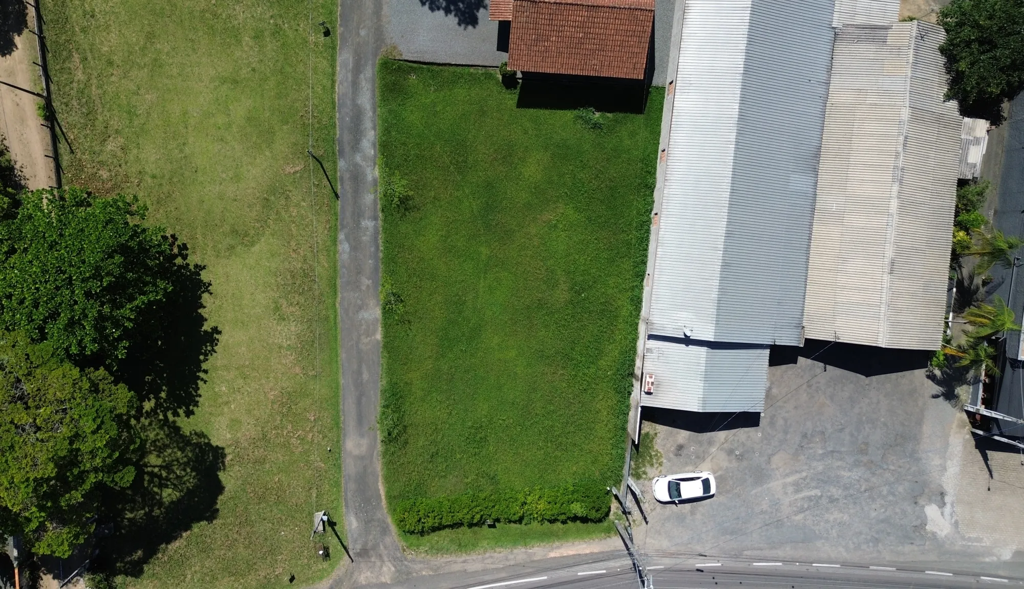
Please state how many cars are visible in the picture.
one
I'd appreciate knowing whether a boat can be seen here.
No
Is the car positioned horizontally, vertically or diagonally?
horizontally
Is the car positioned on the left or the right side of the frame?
right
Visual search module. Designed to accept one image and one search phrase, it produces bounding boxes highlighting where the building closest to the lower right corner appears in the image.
[970,358,1024,437]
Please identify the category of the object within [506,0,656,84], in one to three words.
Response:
house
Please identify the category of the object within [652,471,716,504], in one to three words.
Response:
car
